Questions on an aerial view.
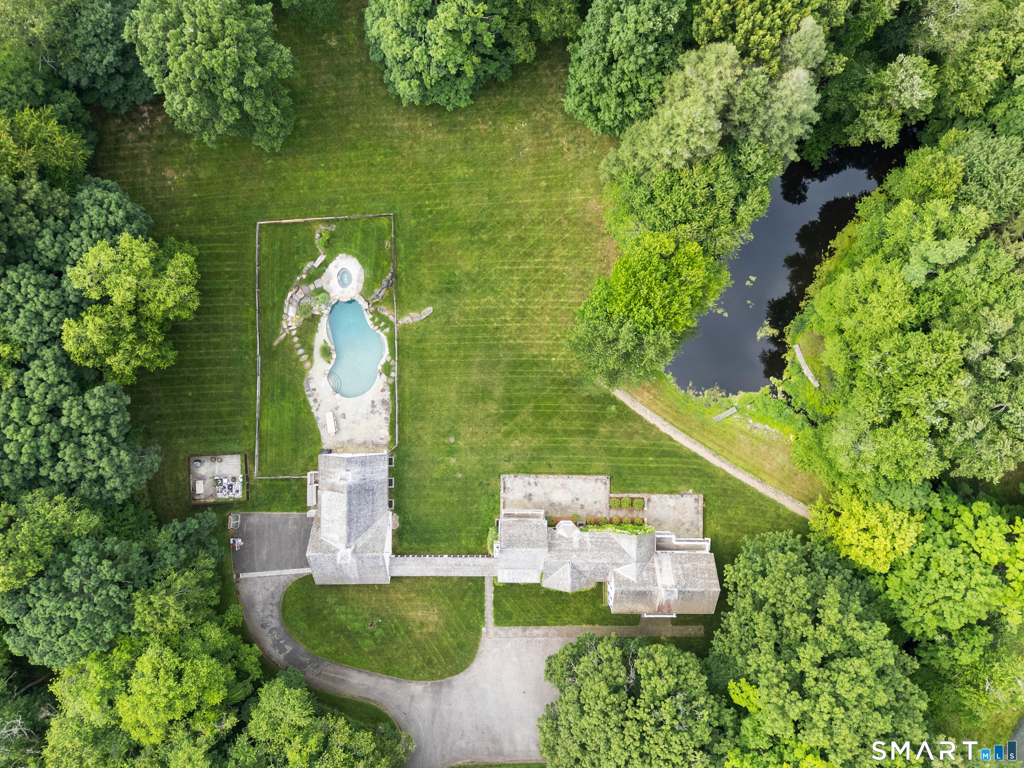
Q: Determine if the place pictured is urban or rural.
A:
rural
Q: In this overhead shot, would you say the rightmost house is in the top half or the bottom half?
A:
bottom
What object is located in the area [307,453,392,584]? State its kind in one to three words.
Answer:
building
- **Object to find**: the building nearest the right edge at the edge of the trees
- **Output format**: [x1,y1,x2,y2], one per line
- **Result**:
[497,508,720,618]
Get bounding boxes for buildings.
[497,508,720,618]
[307,453,392,584]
